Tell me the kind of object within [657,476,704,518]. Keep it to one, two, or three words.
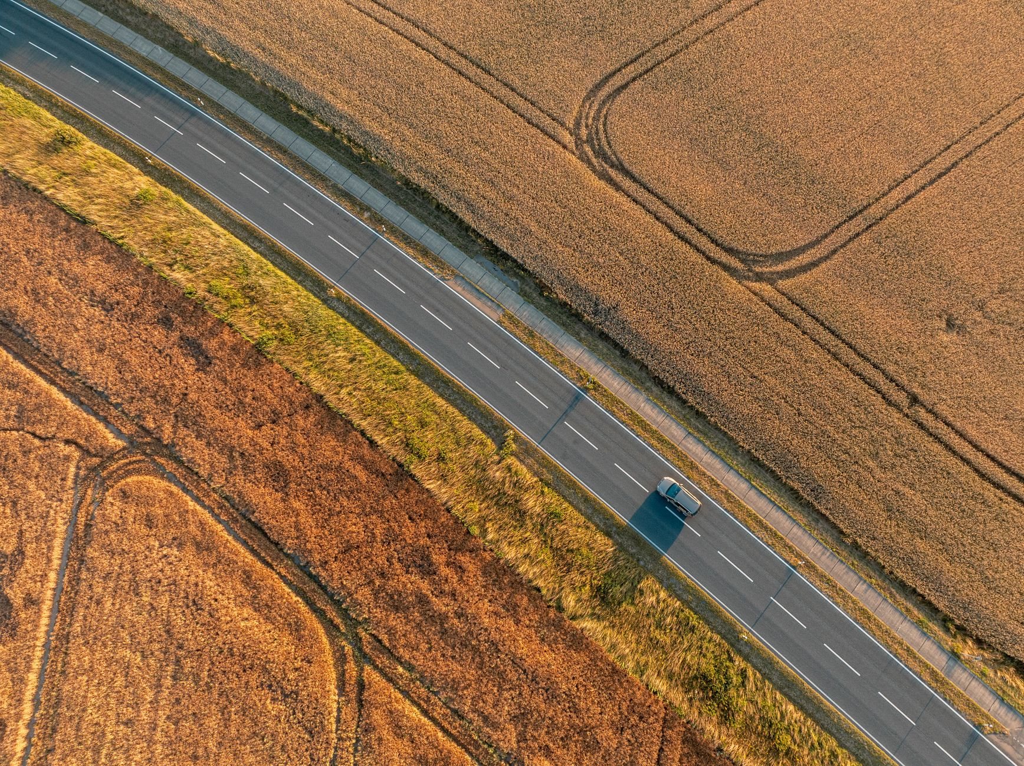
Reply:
car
